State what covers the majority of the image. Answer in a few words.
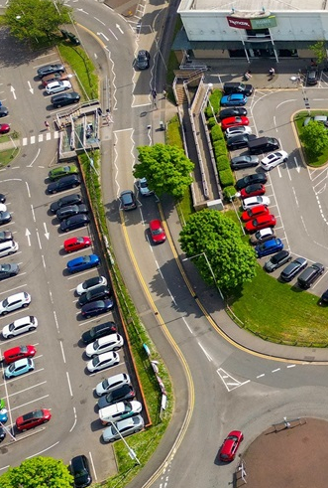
paved ground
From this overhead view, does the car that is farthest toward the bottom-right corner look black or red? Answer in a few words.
red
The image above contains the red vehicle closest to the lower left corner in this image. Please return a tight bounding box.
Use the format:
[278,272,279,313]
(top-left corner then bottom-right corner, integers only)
[15,409,52,432]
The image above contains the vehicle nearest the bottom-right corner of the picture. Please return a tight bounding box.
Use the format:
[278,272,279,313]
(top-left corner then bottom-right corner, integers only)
[218,429,244,461]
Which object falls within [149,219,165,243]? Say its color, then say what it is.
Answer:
red car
